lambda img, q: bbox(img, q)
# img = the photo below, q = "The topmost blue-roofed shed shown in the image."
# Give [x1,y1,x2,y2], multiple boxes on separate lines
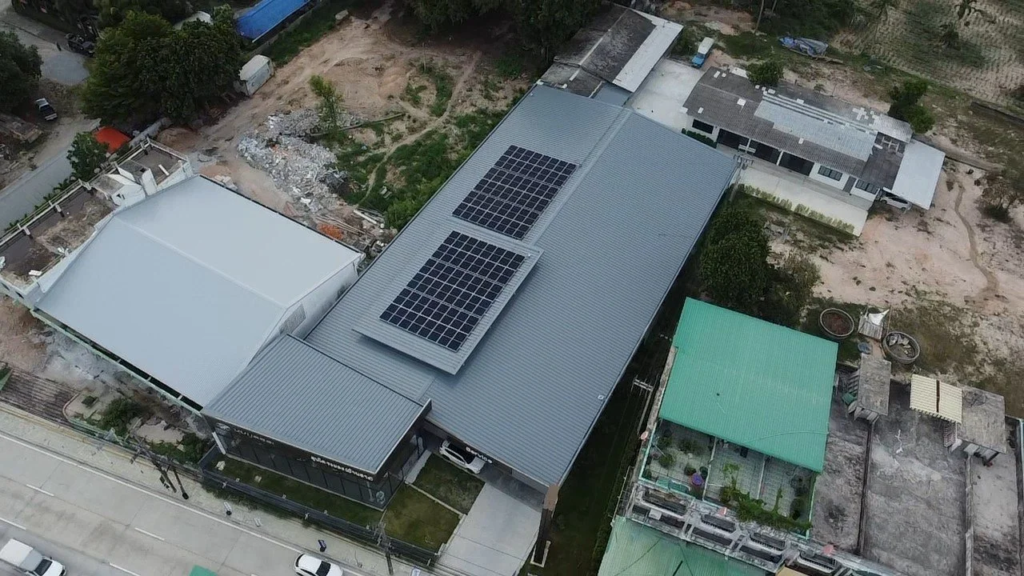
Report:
[236,0,314,49]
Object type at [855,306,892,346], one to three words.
shed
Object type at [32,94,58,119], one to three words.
truck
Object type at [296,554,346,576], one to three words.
car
